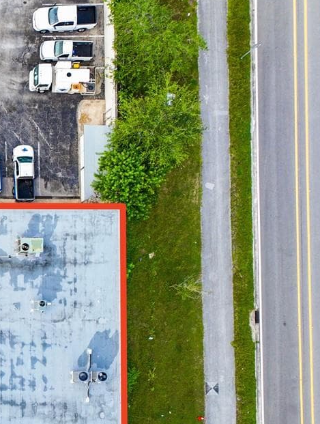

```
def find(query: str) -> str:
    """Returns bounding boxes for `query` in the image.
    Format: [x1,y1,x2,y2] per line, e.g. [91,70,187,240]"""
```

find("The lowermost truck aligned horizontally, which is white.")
[28,62,95,92]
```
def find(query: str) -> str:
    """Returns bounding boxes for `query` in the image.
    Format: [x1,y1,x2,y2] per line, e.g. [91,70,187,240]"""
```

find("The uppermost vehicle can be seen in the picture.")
[32,3,98,33]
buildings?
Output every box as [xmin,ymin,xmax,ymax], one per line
[79,125,115,205]
[0,206,124,424]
